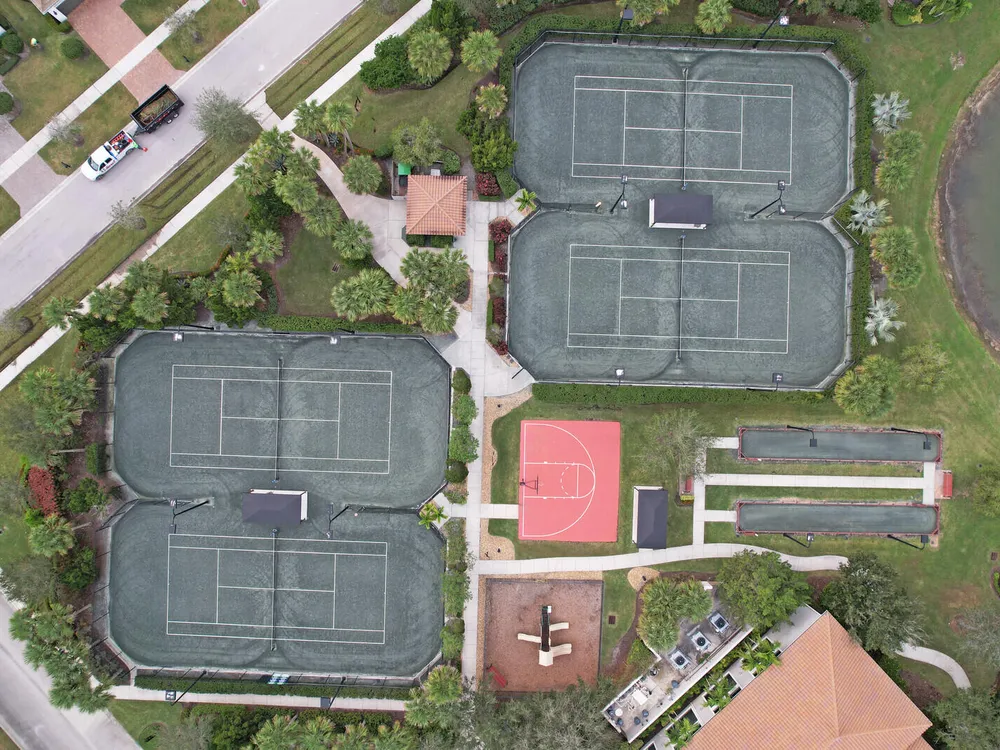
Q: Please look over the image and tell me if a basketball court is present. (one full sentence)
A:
Yes, the image includes a basketball court.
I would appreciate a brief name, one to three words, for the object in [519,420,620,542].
basketball court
